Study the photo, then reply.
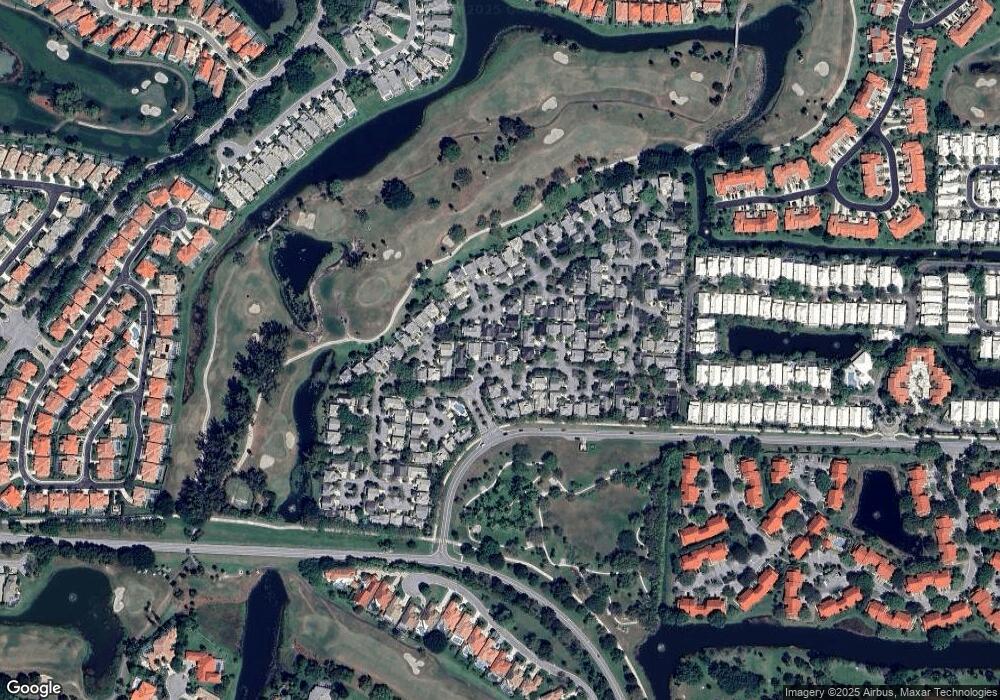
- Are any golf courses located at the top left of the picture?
Yes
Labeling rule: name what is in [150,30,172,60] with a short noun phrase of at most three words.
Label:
house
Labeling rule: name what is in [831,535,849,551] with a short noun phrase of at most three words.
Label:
swimming pool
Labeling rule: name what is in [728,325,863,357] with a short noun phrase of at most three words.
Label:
pond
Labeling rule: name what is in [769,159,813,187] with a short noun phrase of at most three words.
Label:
building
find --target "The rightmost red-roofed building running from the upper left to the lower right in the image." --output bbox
[971,584,1000,633]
